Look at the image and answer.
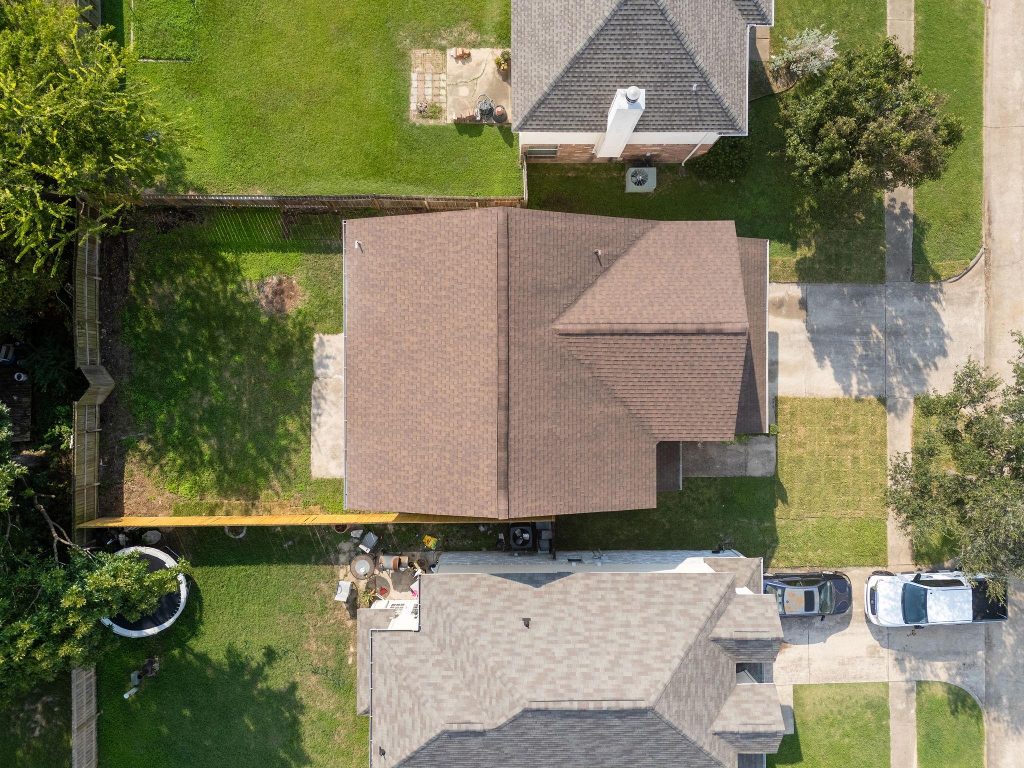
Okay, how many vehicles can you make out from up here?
two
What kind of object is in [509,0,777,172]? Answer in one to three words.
house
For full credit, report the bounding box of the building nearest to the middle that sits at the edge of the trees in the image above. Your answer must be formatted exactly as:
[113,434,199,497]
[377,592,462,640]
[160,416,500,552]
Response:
[342,206,771,521]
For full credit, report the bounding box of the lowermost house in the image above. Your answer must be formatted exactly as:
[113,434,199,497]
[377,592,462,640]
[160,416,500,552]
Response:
[355,546,786,768]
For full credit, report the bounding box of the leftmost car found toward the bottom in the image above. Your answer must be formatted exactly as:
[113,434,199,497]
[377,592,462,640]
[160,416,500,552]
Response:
[764,573,854,621]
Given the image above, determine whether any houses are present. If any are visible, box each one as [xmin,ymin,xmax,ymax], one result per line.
[509,0,777,172]
[342,206,771,521]
[355,546,786,768]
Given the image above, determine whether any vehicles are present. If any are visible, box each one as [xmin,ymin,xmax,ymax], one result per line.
[764,573,854,621]
[862,574,1005,634]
